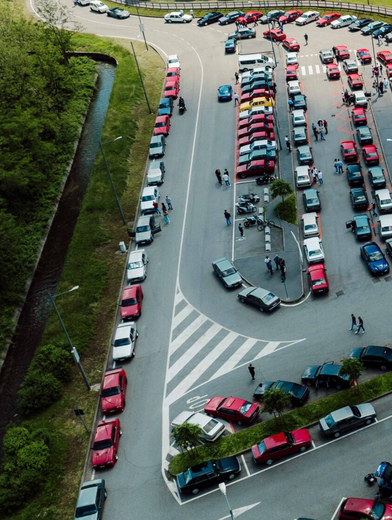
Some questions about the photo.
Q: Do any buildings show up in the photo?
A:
No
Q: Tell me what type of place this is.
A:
parking lot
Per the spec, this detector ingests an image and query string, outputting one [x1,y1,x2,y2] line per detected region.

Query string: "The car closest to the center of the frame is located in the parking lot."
[212,257,243,289]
